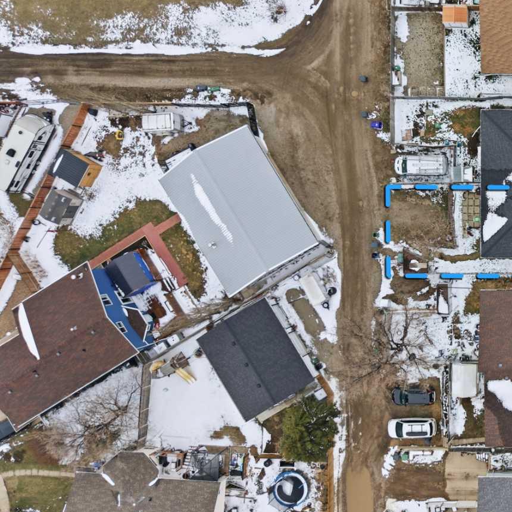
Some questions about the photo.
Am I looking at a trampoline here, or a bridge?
trampoline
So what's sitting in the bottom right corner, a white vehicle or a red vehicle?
white vehicle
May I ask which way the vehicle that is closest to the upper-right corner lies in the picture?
from left to right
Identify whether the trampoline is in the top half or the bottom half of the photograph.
bottom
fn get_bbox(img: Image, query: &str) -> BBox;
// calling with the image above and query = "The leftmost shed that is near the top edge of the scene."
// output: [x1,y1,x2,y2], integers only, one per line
[442,3,470,28]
